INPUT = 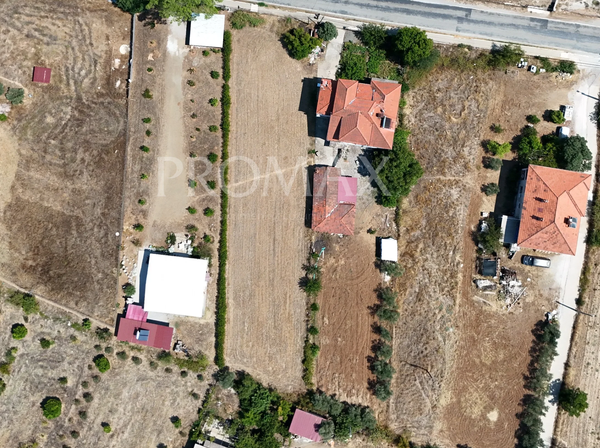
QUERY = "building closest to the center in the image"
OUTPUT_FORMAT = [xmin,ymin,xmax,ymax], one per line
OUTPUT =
[311,166,358,235]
